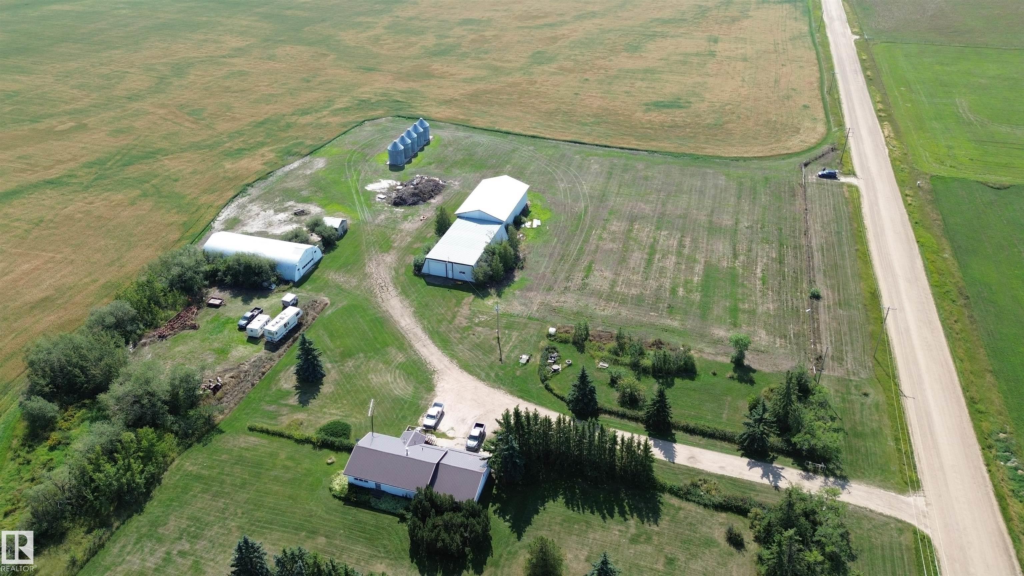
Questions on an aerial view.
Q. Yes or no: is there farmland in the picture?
Yes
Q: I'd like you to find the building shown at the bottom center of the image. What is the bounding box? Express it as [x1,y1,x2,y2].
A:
[343,428,493,505]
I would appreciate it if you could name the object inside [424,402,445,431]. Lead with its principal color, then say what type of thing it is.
white truck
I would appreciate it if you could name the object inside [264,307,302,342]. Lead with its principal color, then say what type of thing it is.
white trailer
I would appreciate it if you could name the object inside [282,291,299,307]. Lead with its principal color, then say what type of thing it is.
white camper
